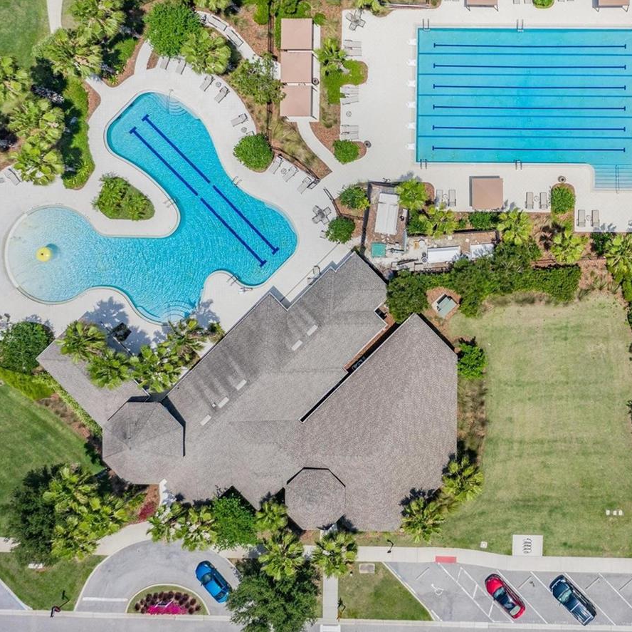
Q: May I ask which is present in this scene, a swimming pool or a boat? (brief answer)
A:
swimming pool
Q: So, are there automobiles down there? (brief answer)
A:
Yes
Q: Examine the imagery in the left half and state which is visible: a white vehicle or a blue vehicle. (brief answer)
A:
blue vehicle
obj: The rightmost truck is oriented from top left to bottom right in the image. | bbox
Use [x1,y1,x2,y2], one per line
[545,570,600,631]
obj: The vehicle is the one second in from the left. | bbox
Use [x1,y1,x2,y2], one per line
[482,569,529,622]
